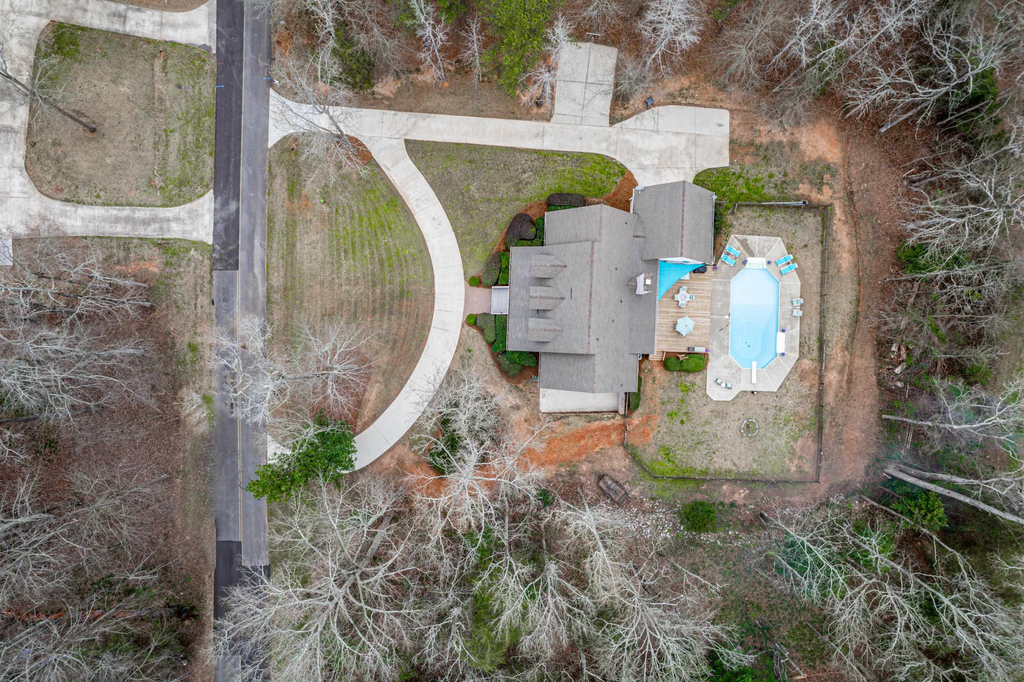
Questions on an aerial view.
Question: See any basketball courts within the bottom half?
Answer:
No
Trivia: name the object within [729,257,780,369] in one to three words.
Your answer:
swimming pool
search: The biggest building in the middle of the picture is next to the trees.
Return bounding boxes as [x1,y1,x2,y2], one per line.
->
[505,181,716,393]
